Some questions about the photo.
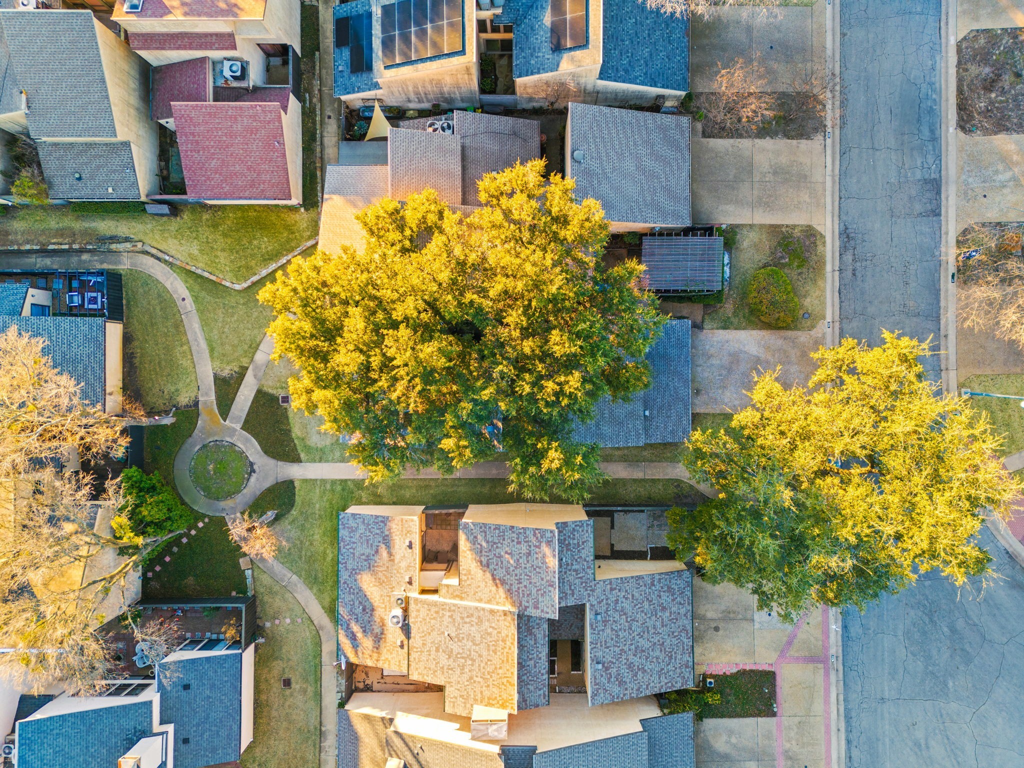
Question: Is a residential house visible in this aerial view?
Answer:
Yes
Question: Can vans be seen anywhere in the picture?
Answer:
No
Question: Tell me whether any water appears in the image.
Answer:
No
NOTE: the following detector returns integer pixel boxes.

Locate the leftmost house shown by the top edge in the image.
[0,0,159,206]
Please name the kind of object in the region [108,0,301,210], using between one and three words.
house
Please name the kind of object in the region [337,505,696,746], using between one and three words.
house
